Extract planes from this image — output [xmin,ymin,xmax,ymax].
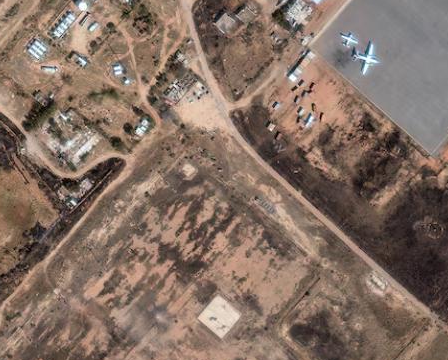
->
[342,35,358,47]
[353,45,379,73]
